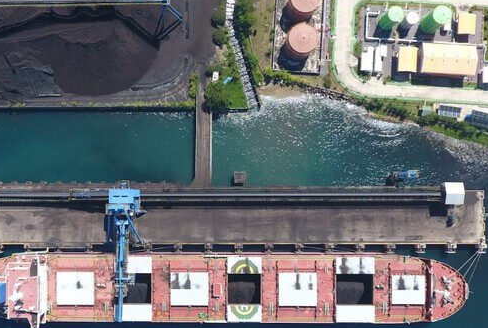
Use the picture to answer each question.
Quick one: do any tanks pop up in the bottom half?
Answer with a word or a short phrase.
No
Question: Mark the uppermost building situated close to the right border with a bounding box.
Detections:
[452,13,476,38]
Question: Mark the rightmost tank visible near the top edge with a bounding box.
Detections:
[420,5,452,33]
